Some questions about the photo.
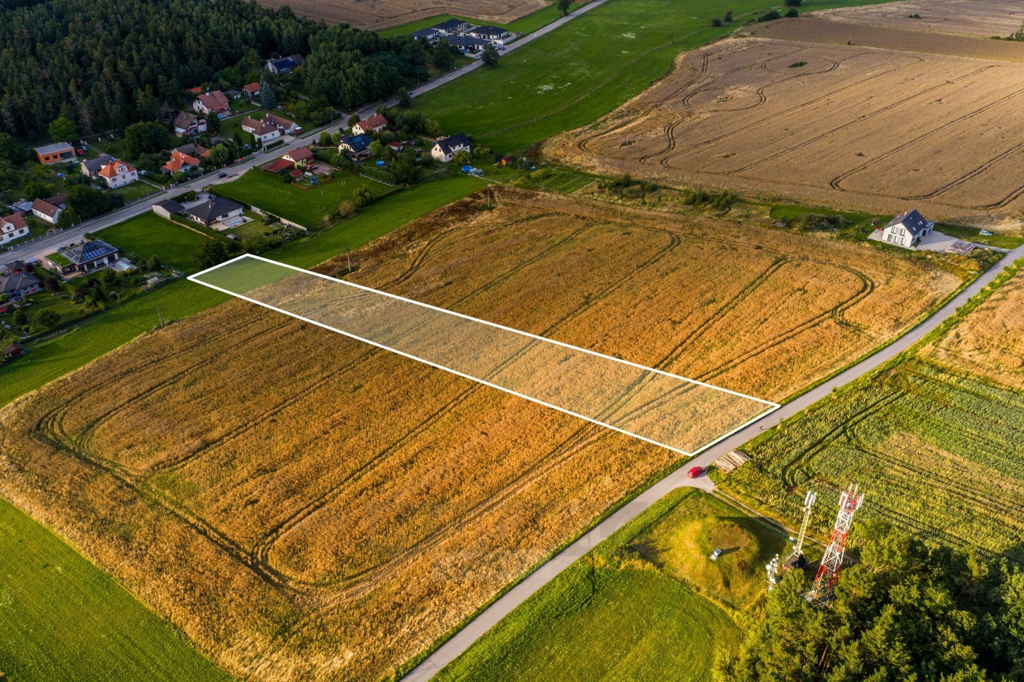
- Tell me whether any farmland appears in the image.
Yes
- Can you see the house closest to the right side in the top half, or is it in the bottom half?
top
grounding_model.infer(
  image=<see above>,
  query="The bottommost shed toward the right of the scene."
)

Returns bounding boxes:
[779,548,815,581]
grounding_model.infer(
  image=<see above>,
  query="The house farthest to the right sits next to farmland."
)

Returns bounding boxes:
[883,205,954,248]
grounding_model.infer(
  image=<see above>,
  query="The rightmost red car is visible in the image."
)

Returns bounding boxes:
[687,464,707,479]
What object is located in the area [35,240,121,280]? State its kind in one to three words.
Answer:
house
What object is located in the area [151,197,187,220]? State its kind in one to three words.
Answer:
building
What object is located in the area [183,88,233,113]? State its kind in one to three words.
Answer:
house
